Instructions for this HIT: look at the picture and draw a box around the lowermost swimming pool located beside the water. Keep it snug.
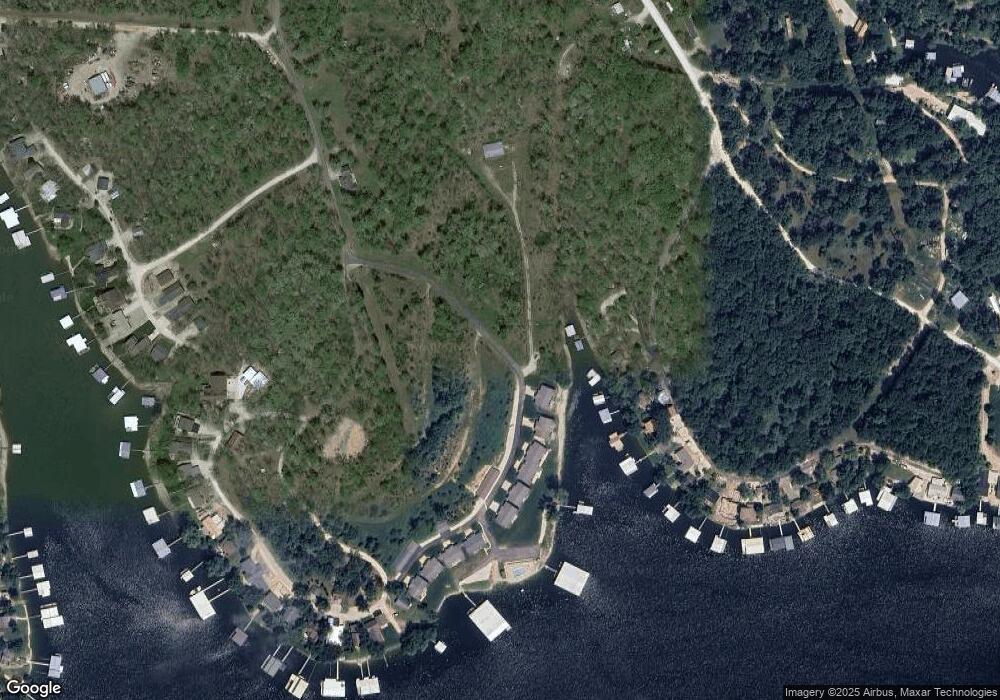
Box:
[506,558,539,580]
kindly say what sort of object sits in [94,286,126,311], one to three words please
house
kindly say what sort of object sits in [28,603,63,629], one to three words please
pier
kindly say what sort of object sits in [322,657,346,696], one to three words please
pier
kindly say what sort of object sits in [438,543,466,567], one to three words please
house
